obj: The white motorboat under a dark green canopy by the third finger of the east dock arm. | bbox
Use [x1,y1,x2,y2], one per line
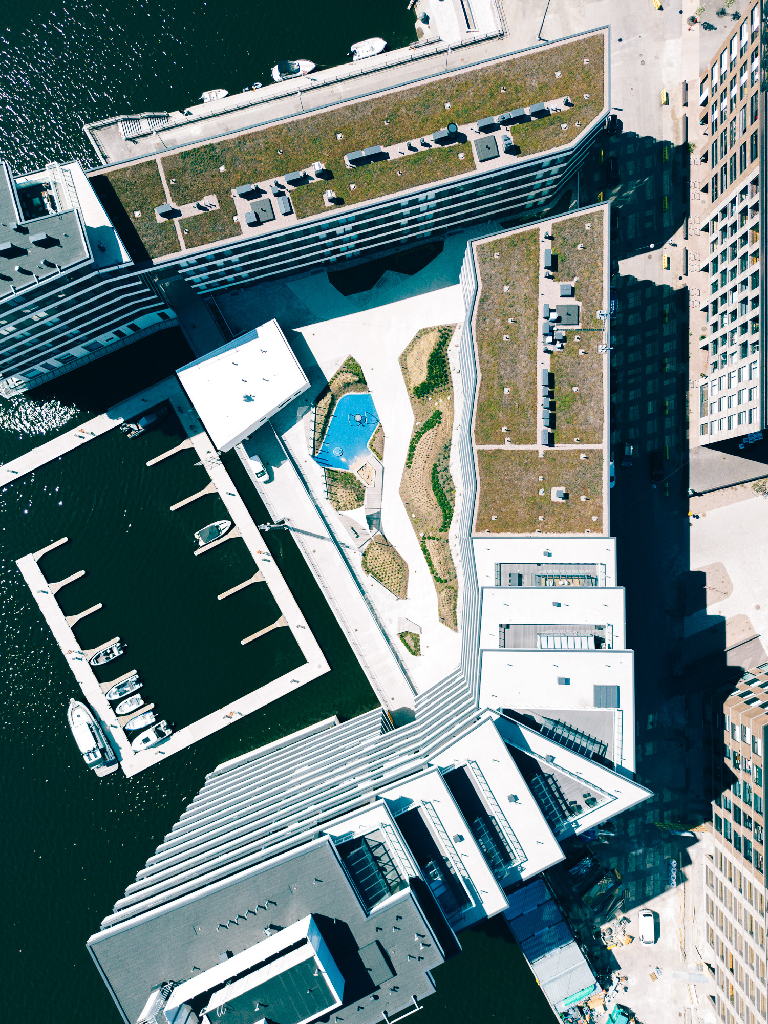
[192,514,230,549]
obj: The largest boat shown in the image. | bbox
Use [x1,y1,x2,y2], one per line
[71,697,120,776]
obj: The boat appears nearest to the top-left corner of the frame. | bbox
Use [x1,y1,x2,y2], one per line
[198,87,230,103]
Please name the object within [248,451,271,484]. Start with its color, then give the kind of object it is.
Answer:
white vehicle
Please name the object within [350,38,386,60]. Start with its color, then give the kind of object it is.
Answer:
white boat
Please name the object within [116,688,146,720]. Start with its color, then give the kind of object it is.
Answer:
white boat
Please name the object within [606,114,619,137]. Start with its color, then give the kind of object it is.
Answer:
black vehicle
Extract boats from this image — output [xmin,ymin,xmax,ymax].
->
[132,717,172,755]
[272,53,318,83]
[71,697,120,776]
[125,706,157,737]
[350,38,386,60]
[106,670,144,708]
[91,639,125,670]
[121,401,166,442]
[192,514,230,549]
[116,688,146,720]
[198,87,230,103]
[246,83,263,91]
